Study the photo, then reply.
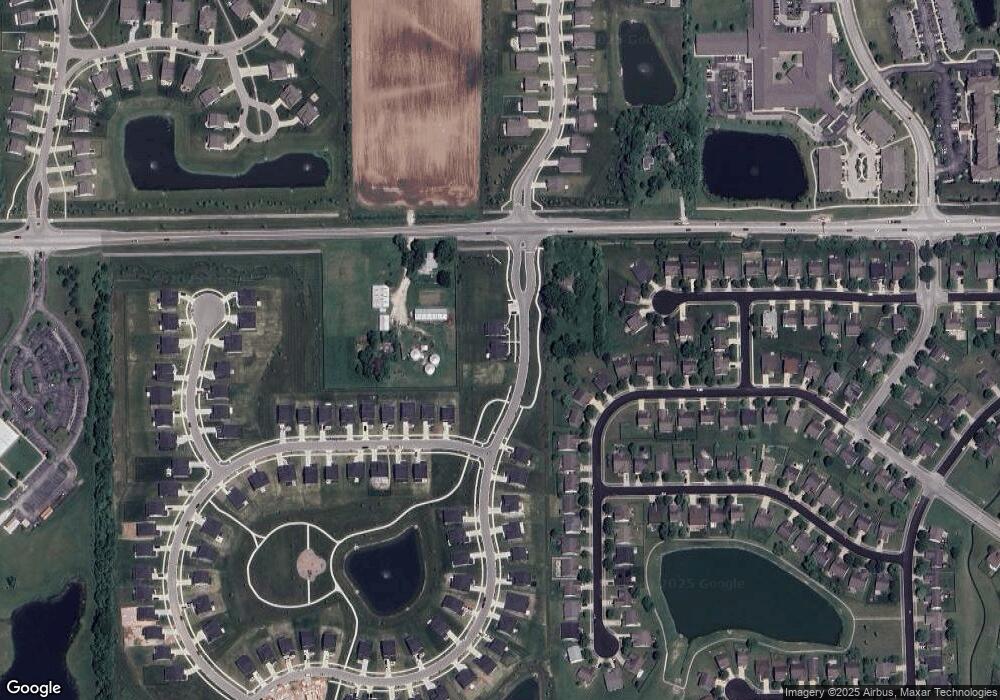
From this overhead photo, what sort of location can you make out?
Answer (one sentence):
The picture captures a residential area.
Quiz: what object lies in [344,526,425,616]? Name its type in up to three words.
pond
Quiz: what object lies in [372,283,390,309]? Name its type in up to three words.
barn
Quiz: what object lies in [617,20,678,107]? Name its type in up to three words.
pond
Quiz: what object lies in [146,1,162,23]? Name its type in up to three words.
house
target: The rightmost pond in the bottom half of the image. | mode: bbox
[659,547,844,645]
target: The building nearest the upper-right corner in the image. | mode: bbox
[933,0,967,51]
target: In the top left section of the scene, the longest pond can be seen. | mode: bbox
[123,113,331,191]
